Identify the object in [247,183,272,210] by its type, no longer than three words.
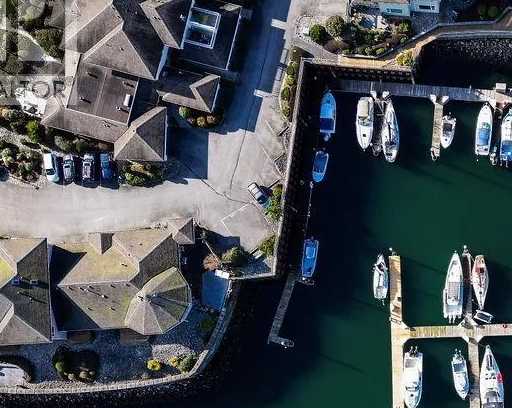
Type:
car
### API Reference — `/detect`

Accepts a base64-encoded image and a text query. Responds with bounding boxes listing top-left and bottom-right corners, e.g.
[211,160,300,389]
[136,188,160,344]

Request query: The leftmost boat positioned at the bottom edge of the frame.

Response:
[402,349,422,408]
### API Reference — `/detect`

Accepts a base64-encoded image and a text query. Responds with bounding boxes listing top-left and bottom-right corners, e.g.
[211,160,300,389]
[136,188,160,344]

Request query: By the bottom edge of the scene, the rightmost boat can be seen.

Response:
[478,346,504,408]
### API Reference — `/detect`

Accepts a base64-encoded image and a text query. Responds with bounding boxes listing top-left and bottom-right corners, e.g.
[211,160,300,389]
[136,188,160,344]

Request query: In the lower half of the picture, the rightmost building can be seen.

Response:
[51,218,203,344]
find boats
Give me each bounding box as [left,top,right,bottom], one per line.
[443,251,466,324]
[451,351,471,402]
[380,98,399,164]
[478,346,504,408]
[498,106,512,164]
[438,113,455,150]
[474,101,494,156]
[402,349,422,408]
[318,90,338,138]
[303,277,315,285]
[312,147,330,181]
[372,252,390,302]
[301,235,319,277]
[469,255,488,310]
[356,94,376,152]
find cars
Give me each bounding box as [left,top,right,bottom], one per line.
[44,153,64,183]
[100,154,118,182]
[63,154,80,183]
[82,153,100,183]
[247,183,272,210]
